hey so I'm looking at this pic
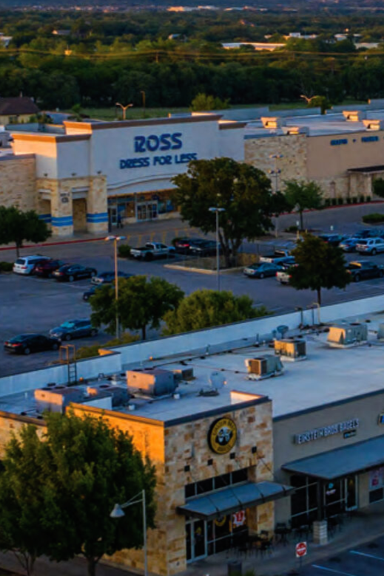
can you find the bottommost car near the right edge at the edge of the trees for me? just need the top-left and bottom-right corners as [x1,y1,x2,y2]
[338,257,384,280]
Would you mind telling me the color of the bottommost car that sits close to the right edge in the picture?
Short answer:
black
